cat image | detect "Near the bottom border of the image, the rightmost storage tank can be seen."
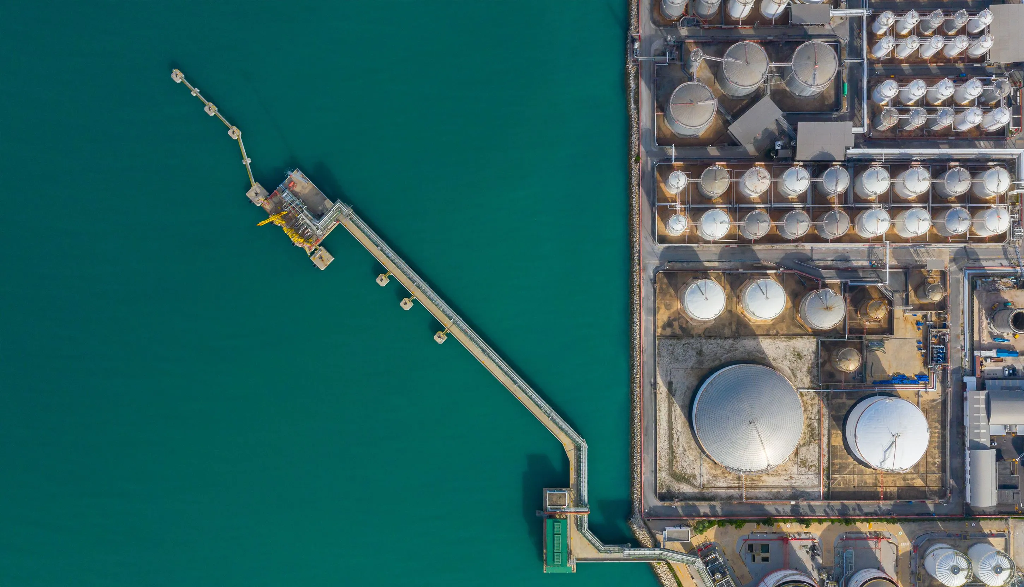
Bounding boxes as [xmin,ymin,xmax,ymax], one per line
[964,541,1020,587]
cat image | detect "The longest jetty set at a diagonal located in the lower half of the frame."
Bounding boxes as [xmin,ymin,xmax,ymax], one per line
[339,210,665,563]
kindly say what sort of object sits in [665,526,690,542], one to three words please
building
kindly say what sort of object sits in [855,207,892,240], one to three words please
storage tank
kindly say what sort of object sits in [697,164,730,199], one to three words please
storage tank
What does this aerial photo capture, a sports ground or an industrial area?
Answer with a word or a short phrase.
industrial area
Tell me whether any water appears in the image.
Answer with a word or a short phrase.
Yes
